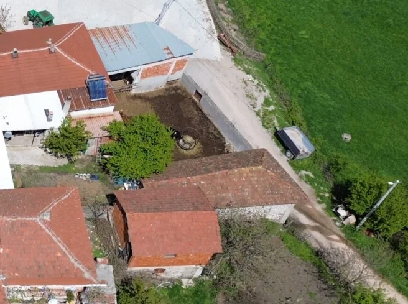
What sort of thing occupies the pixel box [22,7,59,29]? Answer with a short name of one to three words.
work vehicle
